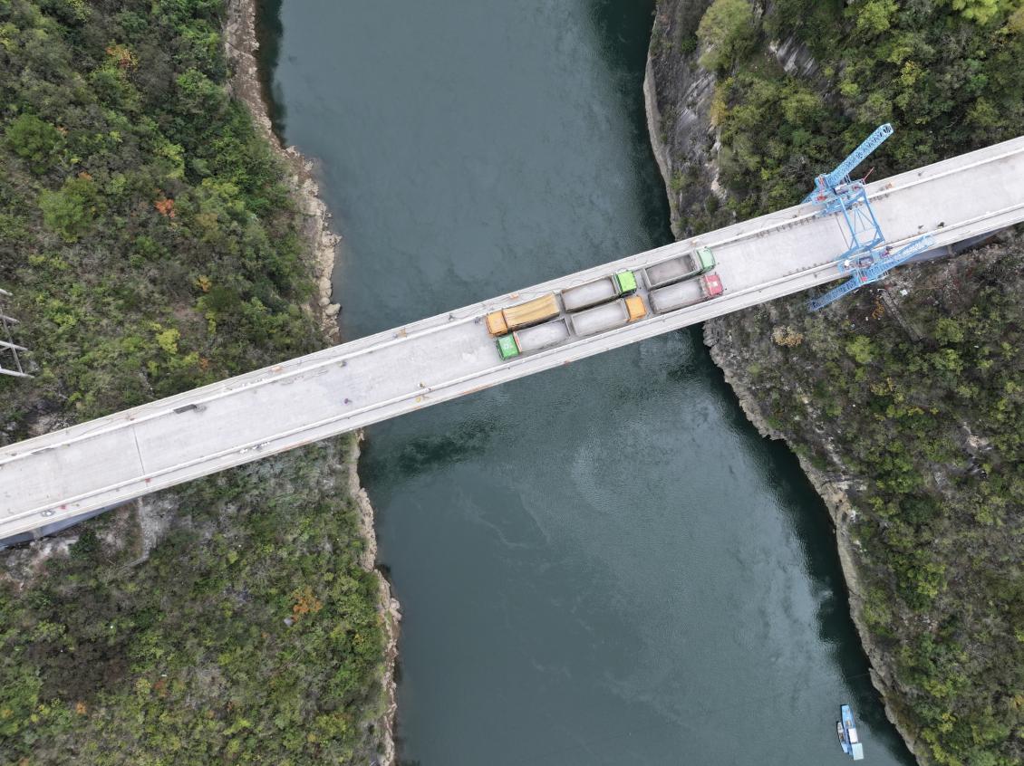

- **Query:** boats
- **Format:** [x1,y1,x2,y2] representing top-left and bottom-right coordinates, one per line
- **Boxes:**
[837,722,851,753]
[841,705,864,760]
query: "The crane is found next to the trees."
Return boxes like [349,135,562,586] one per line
[796,126,933,309]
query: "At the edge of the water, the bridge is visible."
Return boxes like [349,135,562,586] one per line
[0,135,1024,547]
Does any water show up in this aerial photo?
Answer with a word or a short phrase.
Yes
